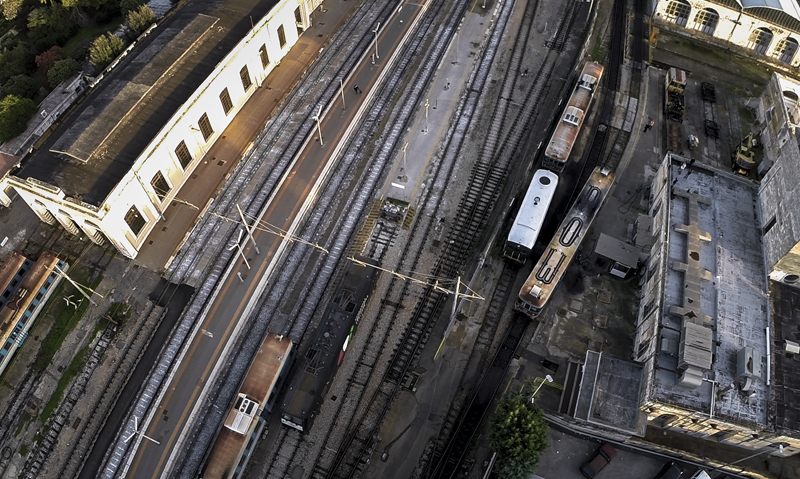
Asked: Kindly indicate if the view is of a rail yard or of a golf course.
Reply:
rail yard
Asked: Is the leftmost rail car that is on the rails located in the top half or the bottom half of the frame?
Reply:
bottom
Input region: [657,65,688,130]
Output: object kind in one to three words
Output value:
vehicle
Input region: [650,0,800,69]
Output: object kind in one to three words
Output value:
building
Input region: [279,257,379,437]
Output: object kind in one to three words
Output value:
rail car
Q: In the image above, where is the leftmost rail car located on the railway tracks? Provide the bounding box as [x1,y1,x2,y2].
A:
[197,333,298,479]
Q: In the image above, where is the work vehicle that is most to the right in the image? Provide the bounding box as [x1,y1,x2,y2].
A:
[734,123,764,171]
